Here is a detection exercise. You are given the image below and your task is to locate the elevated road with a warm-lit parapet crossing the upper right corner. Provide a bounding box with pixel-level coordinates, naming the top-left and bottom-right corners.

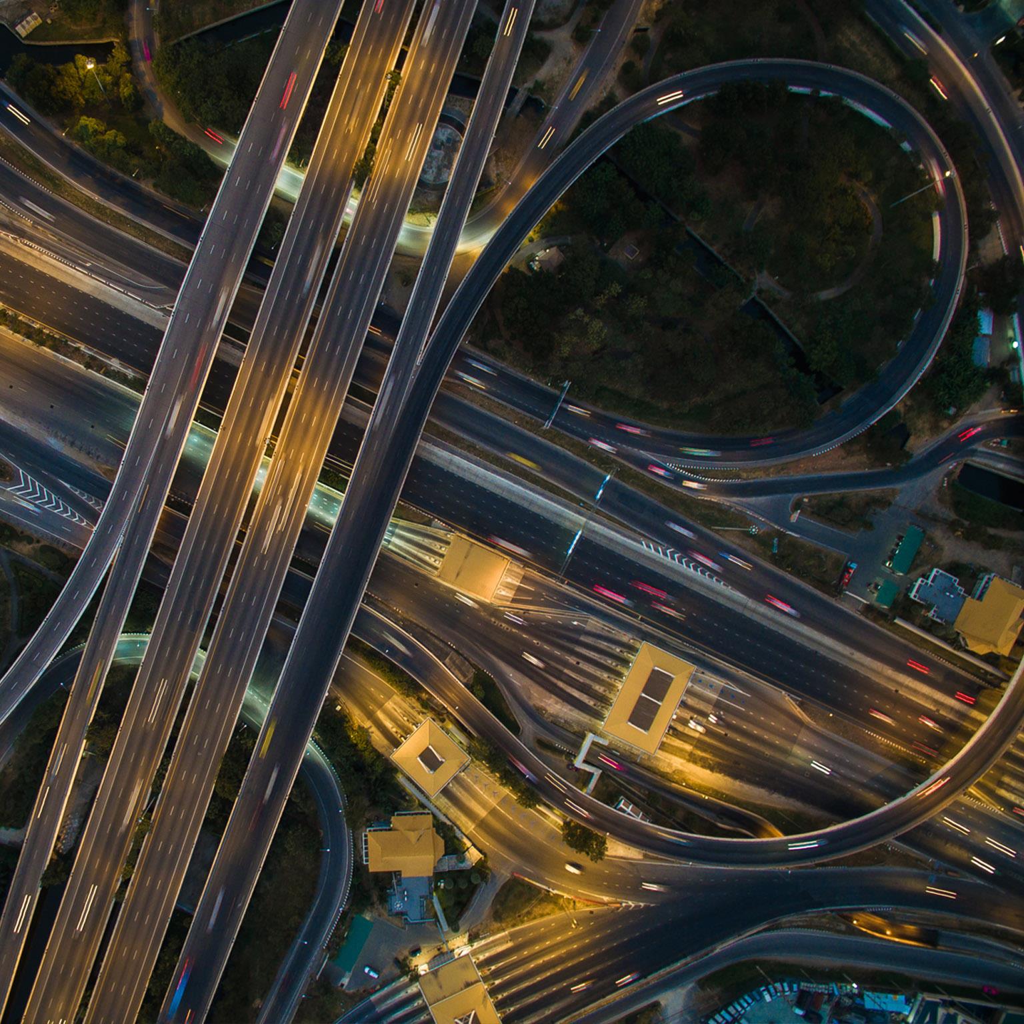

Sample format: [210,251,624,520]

[852,0,1024,399]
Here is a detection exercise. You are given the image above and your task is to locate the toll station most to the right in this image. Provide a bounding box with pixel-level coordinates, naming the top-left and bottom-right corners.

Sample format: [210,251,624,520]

[558,625,709,755]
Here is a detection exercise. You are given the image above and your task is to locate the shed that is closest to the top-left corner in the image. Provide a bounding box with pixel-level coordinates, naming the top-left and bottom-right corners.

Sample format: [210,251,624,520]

[15,11,44,40]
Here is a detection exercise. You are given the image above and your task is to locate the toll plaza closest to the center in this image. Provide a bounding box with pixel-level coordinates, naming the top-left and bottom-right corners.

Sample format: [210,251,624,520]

[411,530,523,603]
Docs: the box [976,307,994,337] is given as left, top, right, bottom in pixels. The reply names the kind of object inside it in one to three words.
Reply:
shed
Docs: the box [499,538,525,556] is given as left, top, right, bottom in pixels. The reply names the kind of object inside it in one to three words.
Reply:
vehicle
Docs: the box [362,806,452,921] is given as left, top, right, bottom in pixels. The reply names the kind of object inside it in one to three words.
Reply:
building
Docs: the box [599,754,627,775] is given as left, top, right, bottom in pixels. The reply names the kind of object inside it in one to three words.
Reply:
truck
